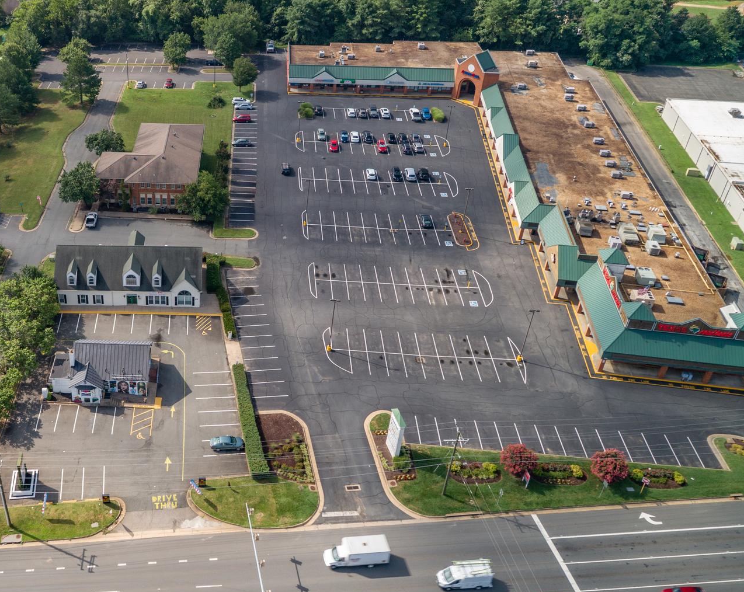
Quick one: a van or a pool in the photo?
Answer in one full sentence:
It is a van that can be seen here.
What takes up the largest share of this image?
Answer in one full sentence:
The bulk of the photo consists of paved ground.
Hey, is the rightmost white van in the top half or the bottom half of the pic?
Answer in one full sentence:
The bottom half of the photo is where the rightmost white van is.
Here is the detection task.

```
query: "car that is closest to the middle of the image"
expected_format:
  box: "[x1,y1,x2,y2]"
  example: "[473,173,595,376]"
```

[420,214,433,229]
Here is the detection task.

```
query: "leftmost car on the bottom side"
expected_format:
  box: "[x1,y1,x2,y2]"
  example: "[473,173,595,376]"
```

[210,434,245,451]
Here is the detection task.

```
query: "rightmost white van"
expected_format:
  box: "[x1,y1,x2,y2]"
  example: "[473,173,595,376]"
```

[440,557,498,590]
